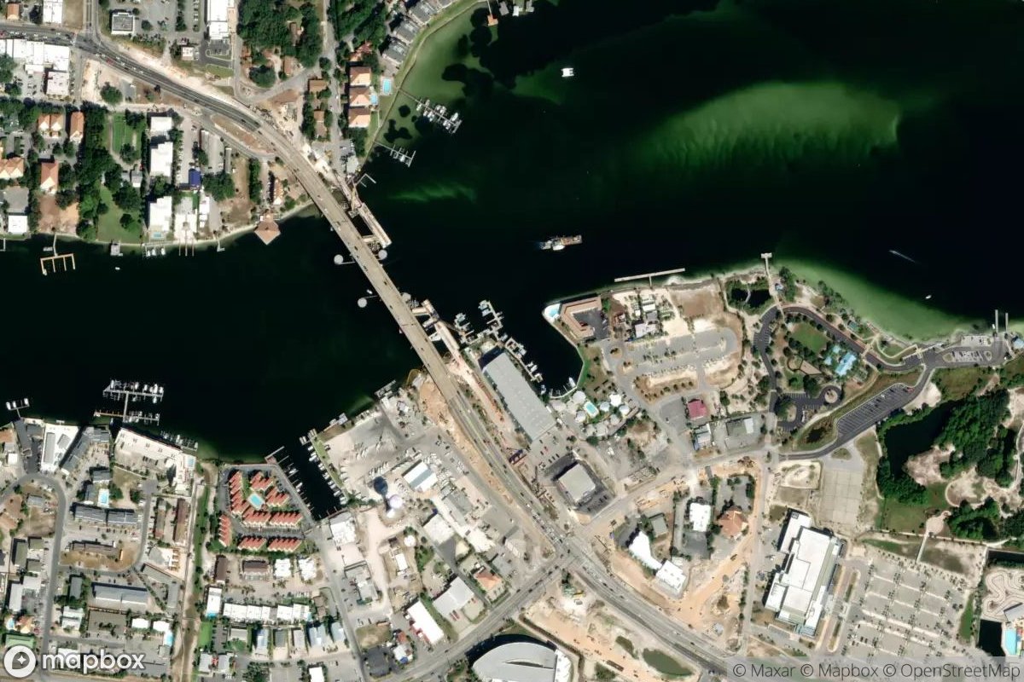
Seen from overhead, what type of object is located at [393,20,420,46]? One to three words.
house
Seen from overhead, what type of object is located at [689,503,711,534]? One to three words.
building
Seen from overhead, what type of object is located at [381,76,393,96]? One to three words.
swimming pool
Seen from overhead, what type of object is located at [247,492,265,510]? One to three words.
swimming pool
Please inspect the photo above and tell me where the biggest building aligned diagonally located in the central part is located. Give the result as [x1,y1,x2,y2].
[481,353,556,445]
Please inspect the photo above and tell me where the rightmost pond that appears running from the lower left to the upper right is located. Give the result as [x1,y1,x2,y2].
[884,401,959,470]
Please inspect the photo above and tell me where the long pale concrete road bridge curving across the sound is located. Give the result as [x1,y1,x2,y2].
[250,121,462,399]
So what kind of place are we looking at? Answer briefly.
port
